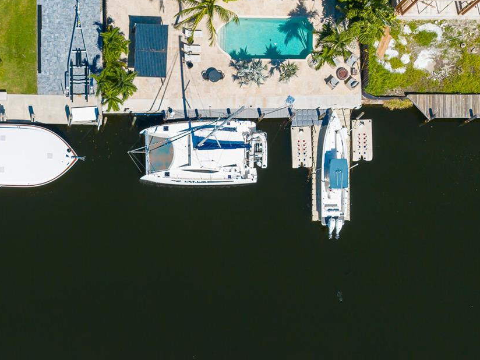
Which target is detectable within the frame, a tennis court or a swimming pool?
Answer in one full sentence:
I can see a swimming pool in this picture.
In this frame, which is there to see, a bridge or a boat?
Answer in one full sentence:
I can see a boat in this picture.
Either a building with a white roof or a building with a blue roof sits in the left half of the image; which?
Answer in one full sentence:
Looking in the left half of the image, you will find a building with a blue roof.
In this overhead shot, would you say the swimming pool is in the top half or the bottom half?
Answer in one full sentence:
Seen from above, the swimming pool lies in the top half of the view.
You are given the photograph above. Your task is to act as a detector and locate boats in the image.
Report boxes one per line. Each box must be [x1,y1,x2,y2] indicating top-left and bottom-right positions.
[128,105,257,185]
[315,112,358,242]
[252,130,268,169]
[0,122,85,186]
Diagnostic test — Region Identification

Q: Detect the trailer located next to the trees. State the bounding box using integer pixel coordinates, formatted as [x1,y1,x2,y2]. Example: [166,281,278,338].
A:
[63,0,93,101]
